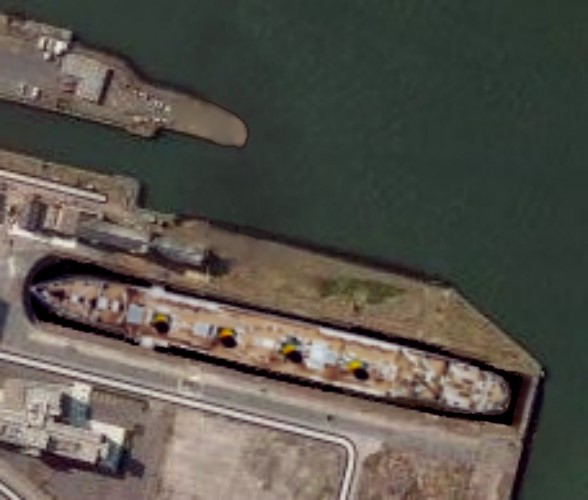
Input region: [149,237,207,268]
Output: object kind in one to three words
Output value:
shed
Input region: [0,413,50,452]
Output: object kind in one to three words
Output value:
building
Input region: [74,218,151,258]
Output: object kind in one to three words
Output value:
shed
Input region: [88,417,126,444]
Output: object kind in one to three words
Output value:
building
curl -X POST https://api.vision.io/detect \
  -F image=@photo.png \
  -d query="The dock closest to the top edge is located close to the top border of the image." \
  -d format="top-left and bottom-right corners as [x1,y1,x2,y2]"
[0,10,248,146]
